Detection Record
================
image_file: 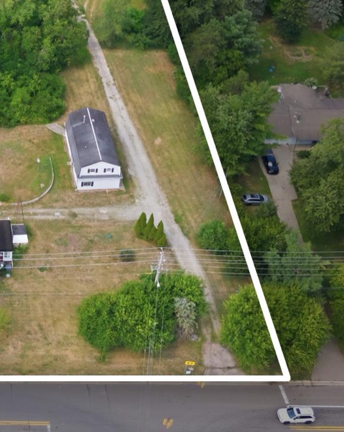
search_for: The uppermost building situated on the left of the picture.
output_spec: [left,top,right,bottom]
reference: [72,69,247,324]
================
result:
[64,105,129,190]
